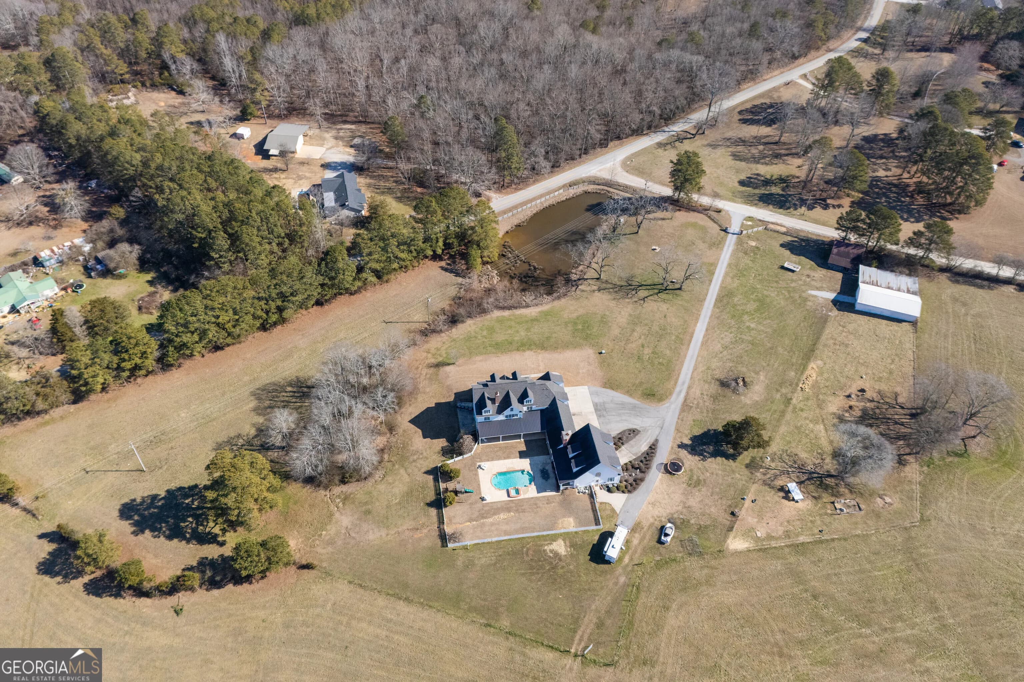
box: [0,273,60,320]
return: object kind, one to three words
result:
building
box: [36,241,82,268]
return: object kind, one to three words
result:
shed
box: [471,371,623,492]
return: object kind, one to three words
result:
house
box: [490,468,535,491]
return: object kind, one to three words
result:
swimming pool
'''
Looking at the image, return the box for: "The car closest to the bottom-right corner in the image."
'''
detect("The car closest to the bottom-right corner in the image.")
[661,522,674,543]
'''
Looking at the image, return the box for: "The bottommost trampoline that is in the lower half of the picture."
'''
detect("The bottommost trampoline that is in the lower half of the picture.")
[666,454,687,475]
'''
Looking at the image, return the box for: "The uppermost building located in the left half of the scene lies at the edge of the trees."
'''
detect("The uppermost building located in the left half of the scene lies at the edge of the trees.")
[261,123,317,160]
